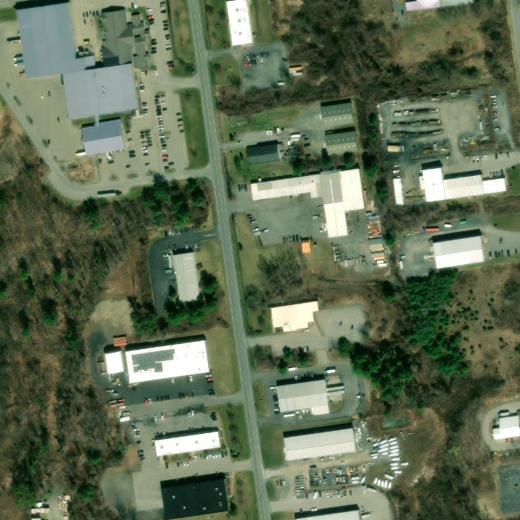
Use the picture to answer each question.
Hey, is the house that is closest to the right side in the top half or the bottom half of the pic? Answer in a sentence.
The house that is closest to the right side sits in the bottom half of the picture.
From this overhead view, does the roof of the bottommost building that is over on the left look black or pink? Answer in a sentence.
The color of the roof of the bottommost building that is over on the left is black.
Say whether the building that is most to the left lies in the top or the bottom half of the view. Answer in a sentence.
The building that is most to the left is in the top half of the image.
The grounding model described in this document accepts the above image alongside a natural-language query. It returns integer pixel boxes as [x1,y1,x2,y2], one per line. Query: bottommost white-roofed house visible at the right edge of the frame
[493,411,520,440]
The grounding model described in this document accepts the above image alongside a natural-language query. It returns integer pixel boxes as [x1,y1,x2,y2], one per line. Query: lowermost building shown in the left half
[161,479,230,520]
